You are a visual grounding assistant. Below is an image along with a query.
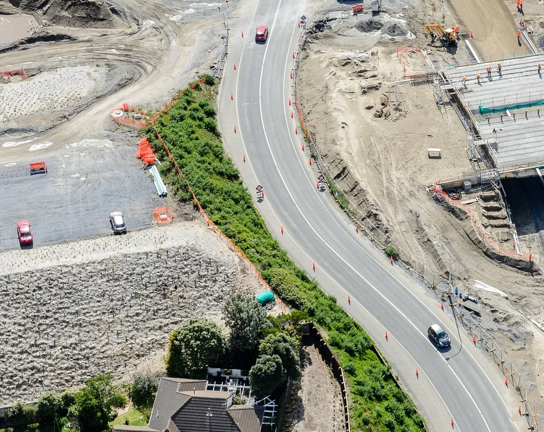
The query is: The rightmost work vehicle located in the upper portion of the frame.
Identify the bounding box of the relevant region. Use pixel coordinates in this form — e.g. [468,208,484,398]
[421,19,461,47]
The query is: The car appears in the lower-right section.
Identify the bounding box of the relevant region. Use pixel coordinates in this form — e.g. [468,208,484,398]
[427,322,453,347]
